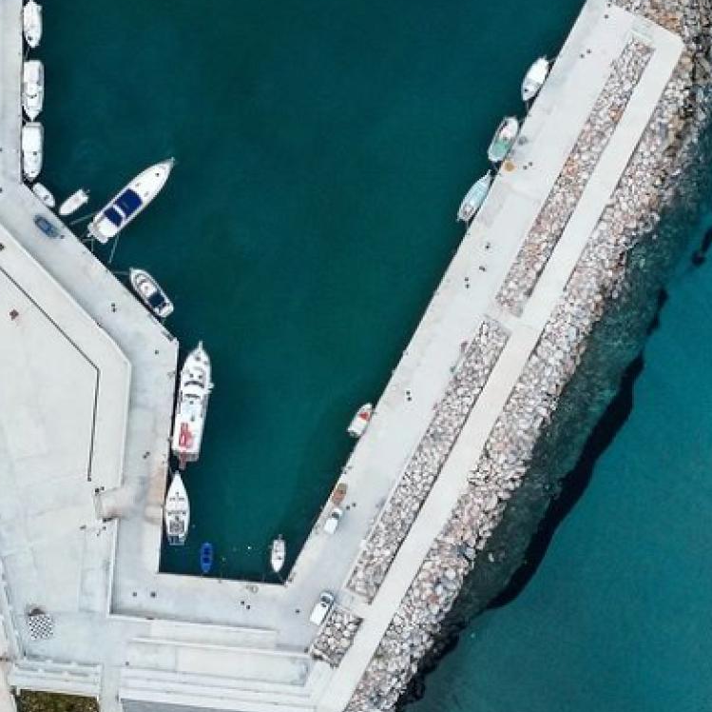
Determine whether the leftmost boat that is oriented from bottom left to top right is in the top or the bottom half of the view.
top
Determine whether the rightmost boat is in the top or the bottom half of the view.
top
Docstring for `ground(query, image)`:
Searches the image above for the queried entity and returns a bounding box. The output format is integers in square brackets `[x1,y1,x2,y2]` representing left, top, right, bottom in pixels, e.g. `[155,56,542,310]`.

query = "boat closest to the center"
[347,404,372,441]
